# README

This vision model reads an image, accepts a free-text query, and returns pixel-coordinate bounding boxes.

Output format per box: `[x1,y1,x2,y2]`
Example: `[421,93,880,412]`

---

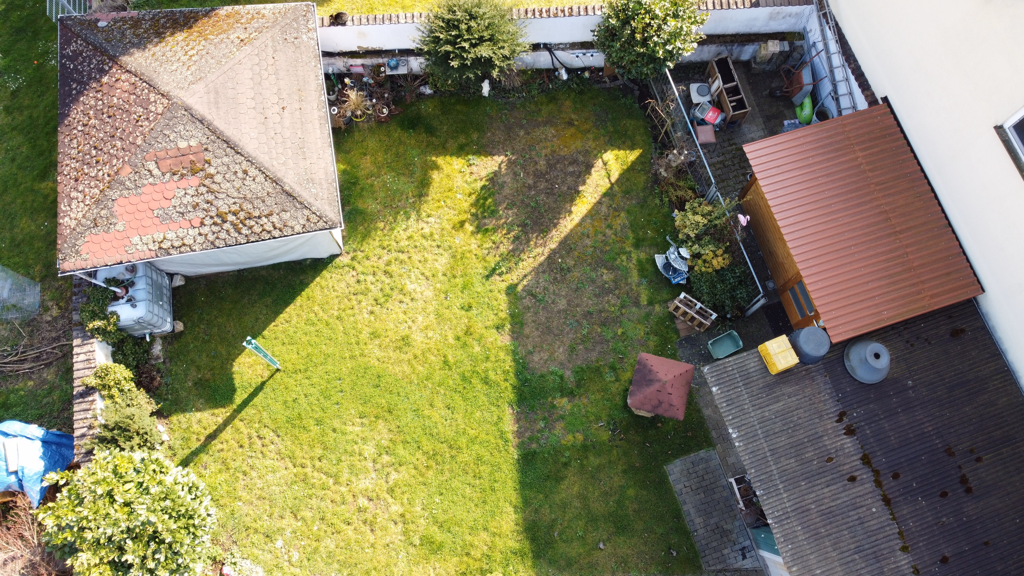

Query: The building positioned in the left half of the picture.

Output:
[55,2,346,289]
